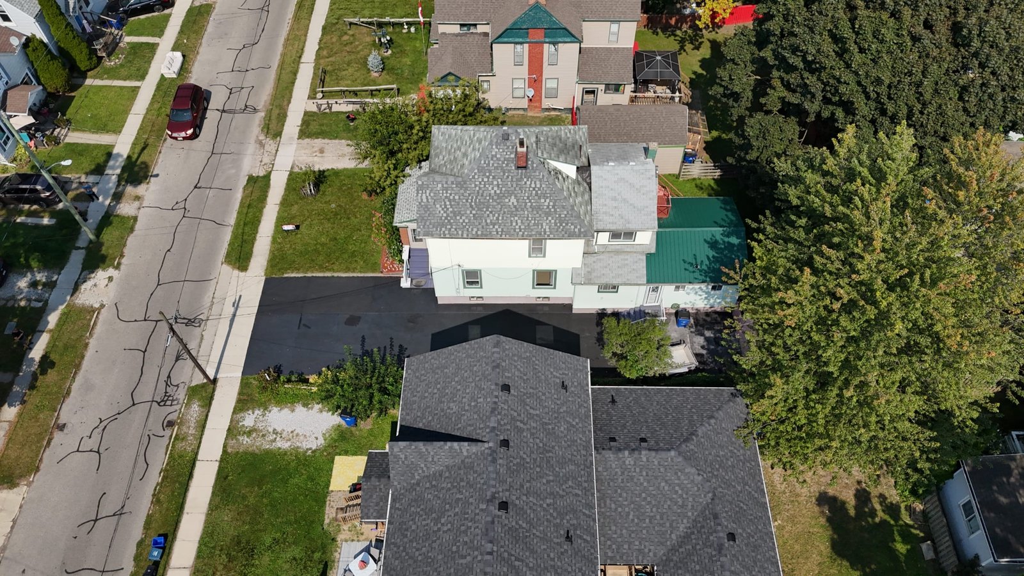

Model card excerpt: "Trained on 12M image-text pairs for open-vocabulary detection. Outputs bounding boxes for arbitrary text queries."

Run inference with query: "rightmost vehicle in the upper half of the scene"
[166,84,207,138]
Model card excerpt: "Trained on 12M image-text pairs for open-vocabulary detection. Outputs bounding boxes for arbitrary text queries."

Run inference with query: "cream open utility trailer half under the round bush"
[633,341,699,378]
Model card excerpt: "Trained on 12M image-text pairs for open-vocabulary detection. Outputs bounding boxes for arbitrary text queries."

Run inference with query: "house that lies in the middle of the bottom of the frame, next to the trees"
[359,336,774,576]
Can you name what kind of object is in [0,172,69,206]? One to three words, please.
car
